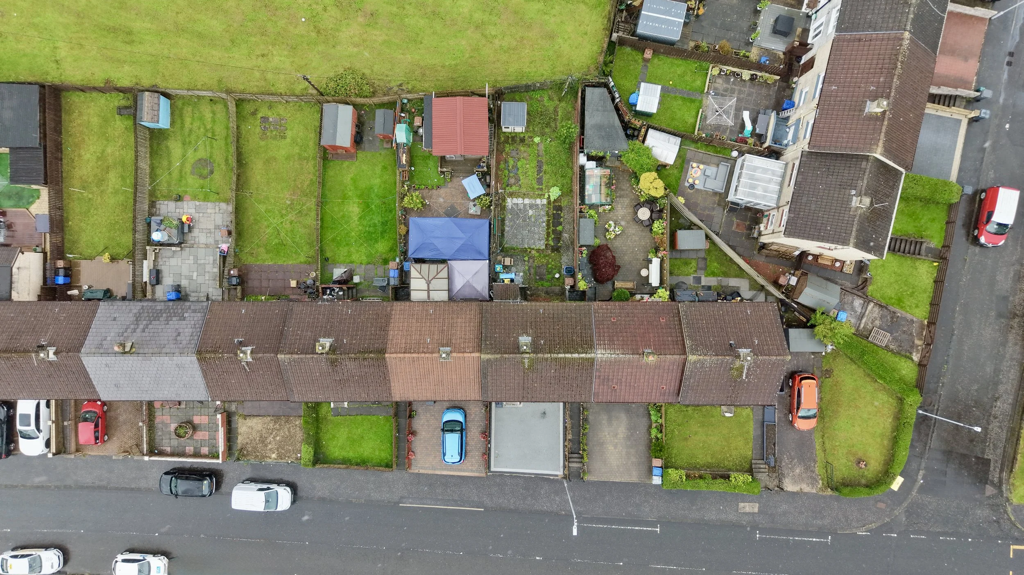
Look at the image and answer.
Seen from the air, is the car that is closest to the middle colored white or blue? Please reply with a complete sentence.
In this view, the car that is closest to the middle is blue.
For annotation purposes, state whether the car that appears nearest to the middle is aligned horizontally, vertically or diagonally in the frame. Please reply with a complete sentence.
The car that appears nearest to the middle is oriented vertically.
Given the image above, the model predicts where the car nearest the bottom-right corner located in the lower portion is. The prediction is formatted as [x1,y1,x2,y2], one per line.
[790,371,826,430]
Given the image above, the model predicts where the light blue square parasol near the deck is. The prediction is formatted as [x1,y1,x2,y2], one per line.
[462,174,485,199]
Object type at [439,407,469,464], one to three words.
car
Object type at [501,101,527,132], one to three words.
shed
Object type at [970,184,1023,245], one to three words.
van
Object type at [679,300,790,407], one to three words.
house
